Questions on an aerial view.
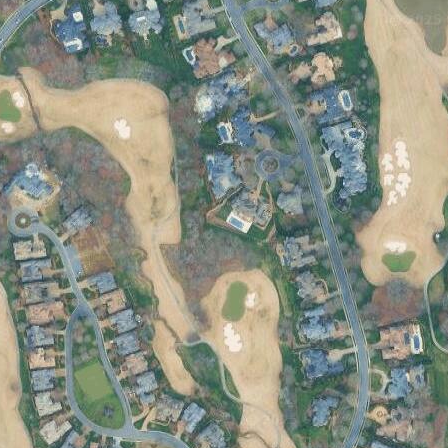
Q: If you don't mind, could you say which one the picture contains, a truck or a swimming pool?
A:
swimming pool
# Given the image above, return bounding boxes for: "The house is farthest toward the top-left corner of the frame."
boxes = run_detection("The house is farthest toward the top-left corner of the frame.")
[51,1,91,50]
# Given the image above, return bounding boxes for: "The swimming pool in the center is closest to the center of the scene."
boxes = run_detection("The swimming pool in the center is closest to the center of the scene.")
[226,211,253,232]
